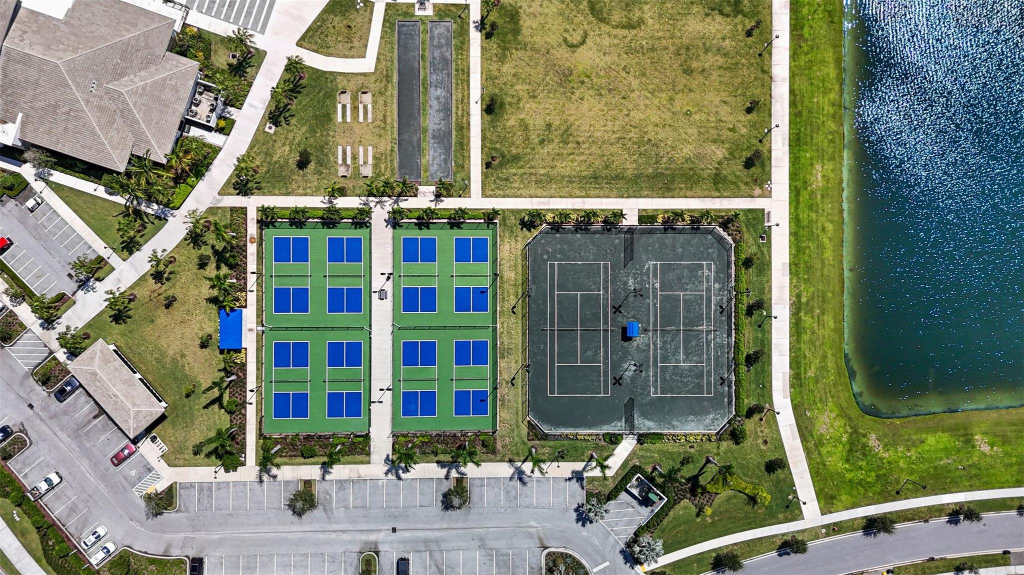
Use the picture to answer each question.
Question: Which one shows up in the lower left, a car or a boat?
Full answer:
Looking in the lower left, you will find a car.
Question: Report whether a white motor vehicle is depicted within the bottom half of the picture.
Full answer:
Yes, a white motor vehicle is visible within the bottom half of the picture.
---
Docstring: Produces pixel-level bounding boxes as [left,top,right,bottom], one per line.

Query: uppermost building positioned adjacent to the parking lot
[0,0,204,178]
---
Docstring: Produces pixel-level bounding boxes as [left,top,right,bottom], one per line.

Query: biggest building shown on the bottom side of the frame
[67,338,166,440]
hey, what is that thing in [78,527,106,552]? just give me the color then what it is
white car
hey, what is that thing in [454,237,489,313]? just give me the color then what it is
blue sports court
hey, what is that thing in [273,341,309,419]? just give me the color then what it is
blue sports court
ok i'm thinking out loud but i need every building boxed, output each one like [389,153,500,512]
[67,338,166,440]
[0,0,204,178]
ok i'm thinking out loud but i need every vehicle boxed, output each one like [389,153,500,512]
[24,472,60,502]
[86,542,117,568]
[187,558,202,575]
[395,558,409,575]
[107,444,135,469]
[78,527,106,552]
[50,378,77,403]
[0,236,11,252]
[20,196,42,211]
[0,425,11,442]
